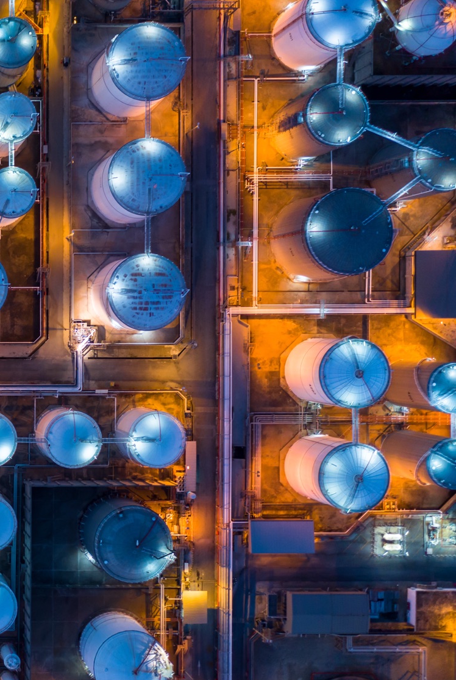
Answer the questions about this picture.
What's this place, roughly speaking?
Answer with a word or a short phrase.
industrial area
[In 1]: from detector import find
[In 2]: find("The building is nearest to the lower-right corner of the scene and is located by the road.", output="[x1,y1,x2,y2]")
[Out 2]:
[401,585,456,631]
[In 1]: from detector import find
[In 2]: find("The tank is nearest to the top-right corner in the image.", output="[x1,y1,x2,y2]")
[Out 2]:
[374,0,456,68]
